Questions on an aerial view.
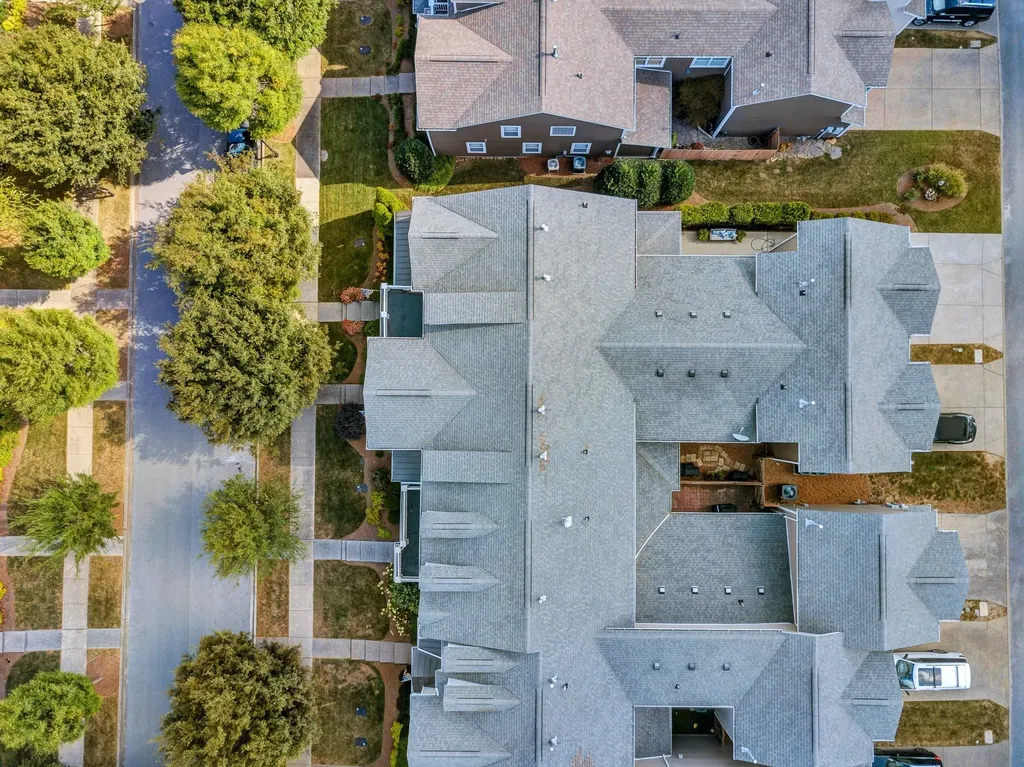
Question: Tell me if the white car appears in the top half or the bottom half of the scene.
bottom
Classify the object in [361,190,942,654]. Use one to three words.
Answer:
house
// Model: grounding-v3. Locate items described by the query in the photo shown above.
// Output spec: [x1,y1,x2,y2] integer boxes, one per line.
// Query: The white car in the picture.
[894,649,973,694]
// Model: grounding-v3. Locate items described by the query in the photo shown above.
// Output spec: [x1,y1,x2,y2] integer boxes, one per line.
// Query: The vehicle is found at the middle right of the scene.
[932,412,976,445]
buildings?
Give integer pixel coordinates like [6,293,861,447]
[361,190,942,654]
[412,0,899,160]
